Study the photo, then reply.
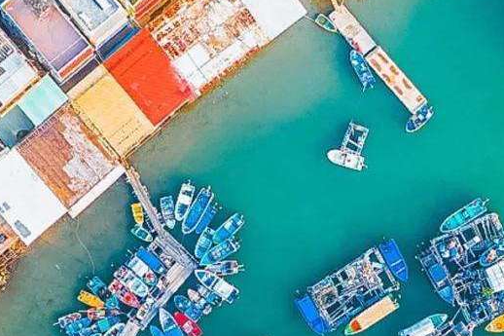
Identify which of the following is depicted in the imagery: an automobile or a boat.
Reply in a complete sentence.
The one in the frame is a boat.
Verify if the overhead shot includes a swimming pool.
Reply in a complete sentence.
No, the frame has no swimming pool in it.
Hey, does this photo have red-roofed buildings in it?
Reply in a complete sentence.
Yes, the picture does show a red-roofed building.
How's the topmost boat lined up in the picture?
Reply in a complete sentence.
What the image shows is the topmost boat lying on a diagonal.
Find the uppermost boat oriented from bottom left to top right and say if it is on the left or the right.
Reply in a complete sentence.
It is on the right.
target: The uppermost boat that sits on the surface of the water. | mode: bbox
[313,14,343,35]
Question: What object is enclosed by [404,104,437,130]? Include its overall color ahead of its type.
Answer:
blue boat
